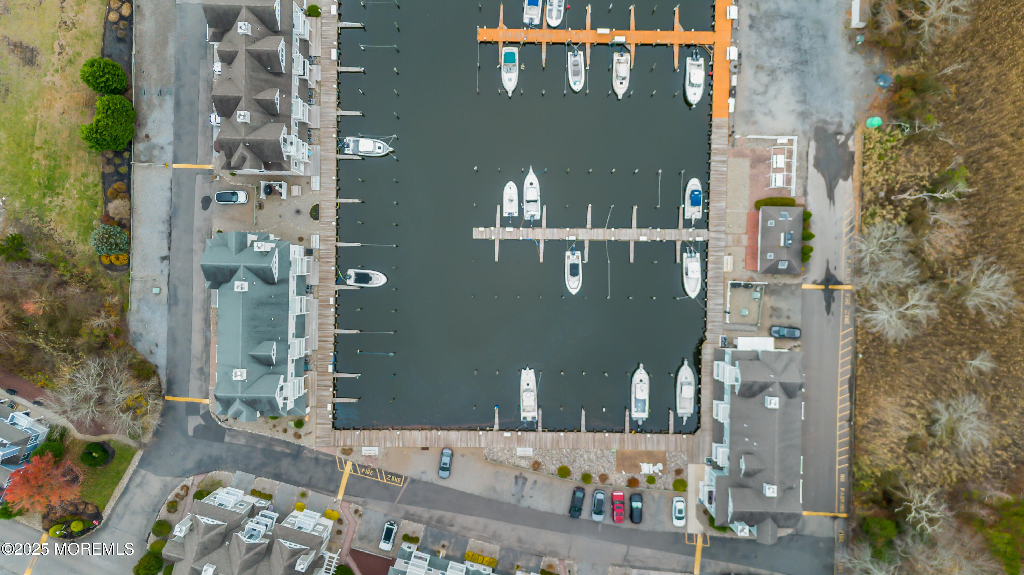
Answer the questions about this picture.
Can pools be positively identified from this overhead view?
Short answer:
No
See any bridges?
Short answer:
No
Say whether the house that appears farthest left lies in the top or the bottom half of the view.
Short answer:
bottom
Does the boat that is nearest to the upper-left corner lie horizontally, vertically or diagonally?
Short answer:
horizontally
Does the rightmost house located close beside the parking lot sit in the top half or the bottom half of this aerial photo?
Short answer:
bottom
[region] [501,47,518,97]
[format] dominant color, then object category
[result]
white boat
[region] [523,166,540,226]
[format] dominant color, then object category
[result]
white boat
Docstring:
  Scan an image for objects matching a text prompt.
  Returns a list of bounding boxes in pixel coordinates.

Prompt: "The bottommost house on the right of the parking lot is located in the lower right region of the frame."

[694,348,805,545]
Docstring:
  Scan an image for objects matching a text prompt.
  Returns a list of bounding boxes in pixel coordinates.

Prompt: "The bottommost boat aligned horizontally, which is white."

[343,270,388,287]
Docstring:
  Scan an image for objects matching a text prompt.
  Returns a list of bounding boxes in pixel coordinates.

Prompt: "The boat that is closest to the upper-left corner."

[340,136,394,156]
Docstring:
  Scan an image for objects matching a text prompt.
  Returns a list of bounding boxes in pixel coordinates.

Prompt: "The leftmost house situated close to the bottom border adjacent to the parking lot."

[155,482,336,575]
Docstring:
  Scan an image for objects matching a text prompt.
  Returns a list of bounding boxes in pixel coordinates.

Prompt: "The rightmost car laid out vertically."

[672,497,687,527]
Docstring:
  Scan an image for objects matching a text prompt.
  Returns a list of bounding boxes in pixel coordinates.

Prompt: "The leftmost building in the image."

[0,391,48,492]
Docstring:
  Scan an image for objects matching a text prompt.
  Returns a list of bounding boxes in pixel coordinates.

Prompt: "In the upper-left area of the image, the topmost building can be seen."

[202,0,317,175]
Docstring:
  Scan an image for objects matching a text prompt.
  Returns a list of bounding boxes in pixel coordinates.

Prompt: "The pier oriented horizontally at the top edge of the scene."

[477,2,714,71]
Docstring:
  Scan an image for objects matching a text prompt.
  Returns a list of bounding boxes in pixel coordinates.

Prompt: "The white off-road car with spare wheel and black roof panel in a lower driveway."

[379,520,397,552]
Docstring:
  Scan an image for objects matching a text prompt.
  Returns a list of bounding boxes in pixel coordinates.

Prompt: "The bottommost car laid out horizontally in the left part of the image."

[215,189,248,204]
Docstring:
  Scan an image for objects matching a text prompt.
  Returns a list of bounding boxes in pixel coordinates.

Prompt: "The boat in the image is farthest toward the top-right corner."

[684,52,704,108]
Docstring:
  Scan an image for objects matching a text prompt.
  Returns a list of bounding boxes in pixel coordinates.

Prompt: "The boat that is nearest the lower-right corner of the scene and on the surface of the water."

[675,358,694,424]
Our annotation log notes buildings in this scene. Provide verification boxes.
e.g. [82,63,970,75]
[694,348,805,545]
[381,537,494,575]
[202,0,317,175]
[746,206,803,273]
[200,231,313,423]
[851,0,871,28]
[0,391,48,492]
[155,482,336,575]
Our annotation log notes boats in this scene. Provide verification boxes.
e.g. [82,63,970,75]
[501,47,518,97]
[682,247,701,299]
[684,52,704,108]
[612,49,629,99]
[520,365,537,429]
[523,0,541,28]
[340,136,394,156]
[675,358,694,424]
[684,178,702,228]
[565,245,582,295]
[568,48,585,92]
[343,270,388,287]
[523,166,540,226]
[503,181,518,226]
[546,0,564,27]
[631,362,649,426]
